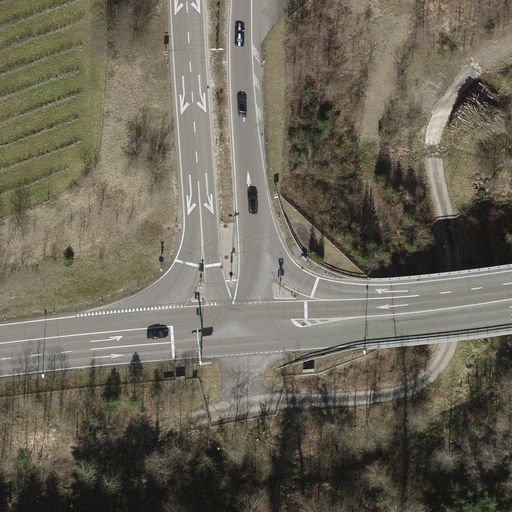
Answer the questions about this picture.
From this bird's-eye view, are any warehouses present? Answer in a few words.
No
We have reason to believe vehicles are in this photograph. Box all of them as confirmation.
[248,191,258,214]
[236,96,248,118]
[147,327,168,338]
[234,25,245,47]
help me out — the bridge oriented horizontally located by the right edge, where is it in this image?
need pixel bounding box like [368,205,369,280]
[372,264,512,349]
